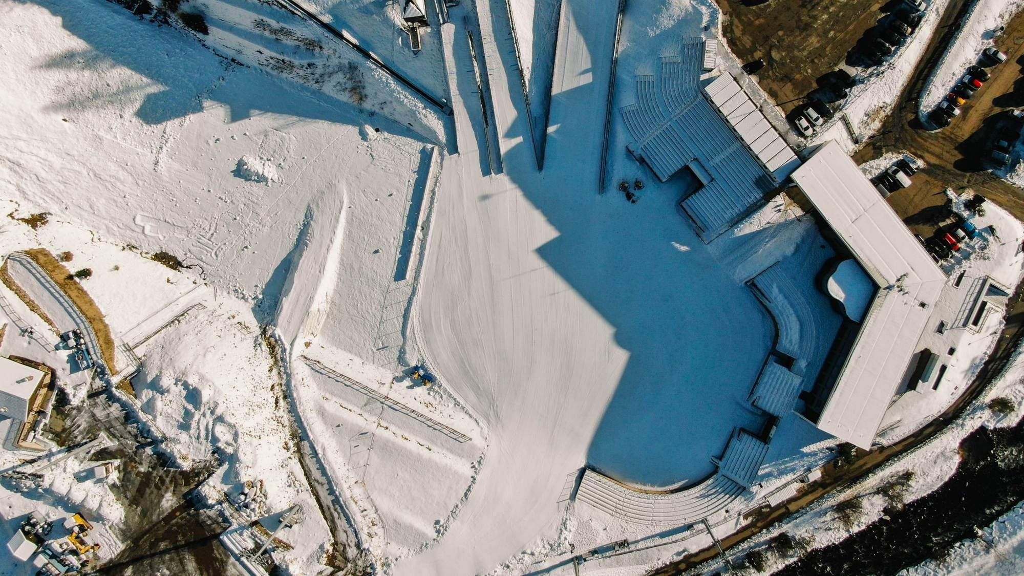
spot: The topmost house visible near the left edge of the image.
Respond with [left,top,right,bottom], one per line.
[0,354,59,453]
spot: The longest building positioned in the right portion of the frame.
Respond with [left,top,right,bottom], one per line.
[770,140,947,450]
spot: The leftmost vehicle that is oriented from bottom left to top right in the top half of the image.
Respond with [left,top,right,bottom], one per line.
[743,58,765,75]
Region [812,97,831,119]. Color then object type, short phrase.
black car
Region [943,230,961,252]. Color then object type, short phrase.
red car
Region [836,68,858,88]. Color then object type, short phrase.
black car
